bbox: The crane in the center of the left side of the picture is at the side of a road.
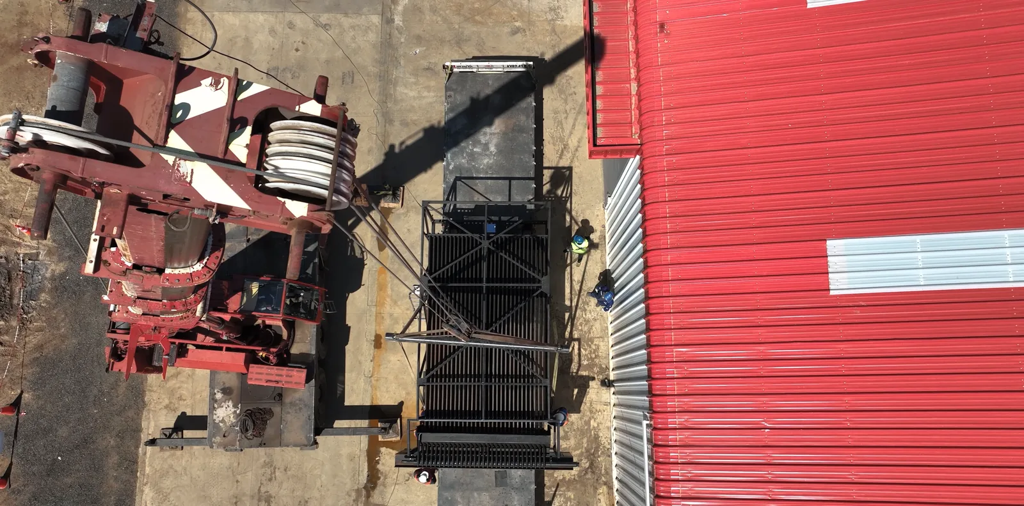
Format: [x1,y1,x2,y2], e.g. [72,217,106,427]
[0,0,397,454]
